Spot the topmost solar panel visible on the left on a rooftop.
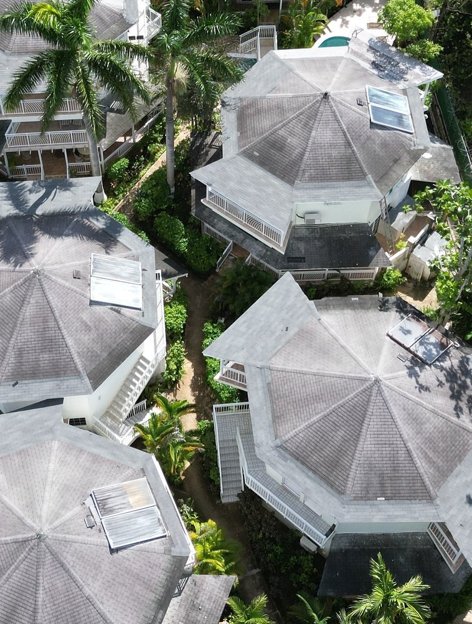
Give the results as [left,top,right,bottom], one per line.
[88,254,141,311]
